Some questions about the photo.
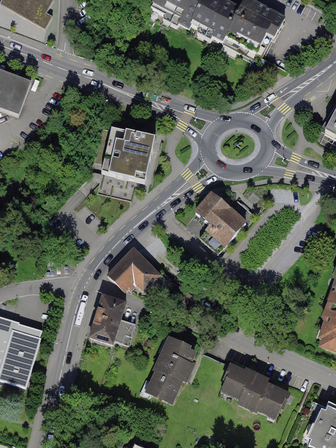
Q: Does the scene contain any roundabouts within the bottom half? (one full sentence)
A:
No, no roundabout is visible within the bottom half.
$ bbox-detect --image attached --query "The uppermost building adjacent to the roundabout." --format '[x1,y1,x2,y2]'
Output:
[150,0,288,59]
